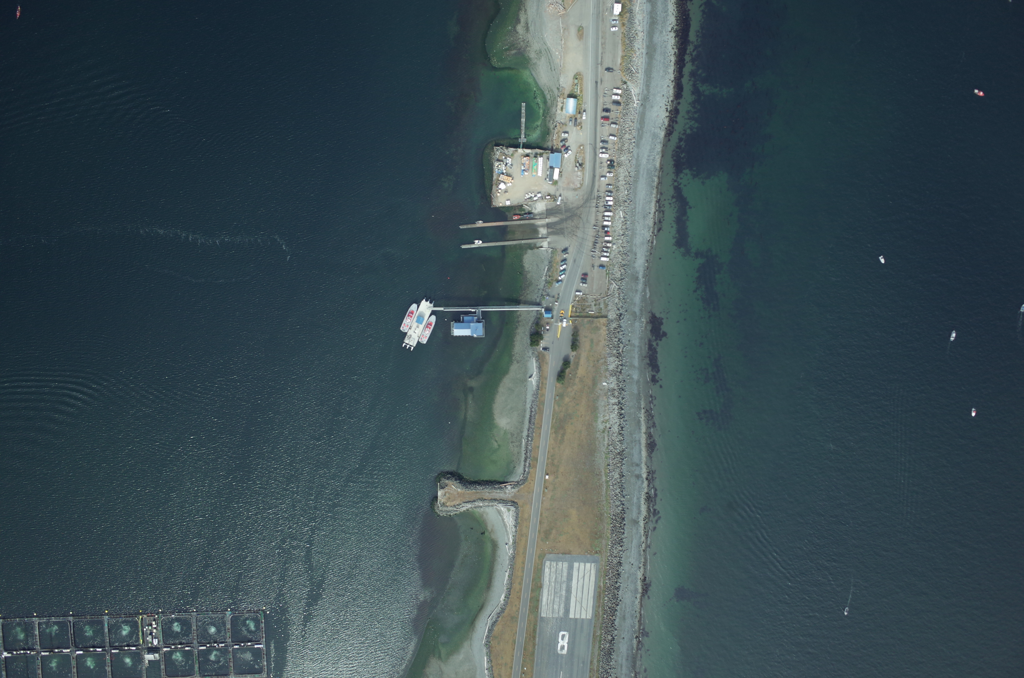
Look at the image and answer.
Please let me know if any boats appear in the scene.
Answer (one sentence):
Yes, the photo shows a boat.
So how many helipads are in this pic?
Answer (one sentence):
I count no helipads.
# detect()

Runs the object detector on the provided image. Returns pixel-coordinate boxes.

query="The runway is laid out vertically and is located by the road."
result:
[534,554,600,678]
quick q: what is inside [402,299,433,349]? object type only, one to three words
ship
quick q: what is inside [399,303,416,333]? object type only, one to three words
boat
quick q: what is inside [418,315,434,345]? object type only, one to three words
boat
